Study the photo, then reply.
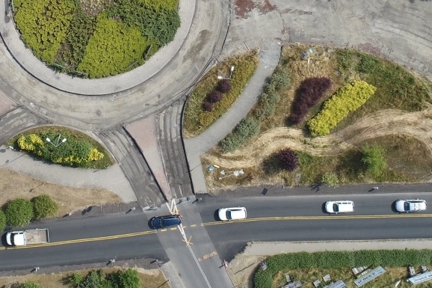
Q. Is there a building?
No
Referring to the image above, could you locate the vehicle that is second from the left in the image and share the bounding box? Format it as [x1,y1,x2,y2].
[149,214,180,227]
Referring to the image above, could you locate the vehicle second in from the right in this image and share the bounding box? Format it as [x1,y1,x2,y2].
[325,200,354,213]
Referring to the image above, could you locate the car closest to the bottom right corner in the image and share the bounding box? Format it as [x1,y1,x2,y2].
[393,199,425,213]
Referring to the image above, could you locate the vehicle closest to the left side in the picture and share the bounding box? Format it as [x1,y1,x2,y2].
[6,231,49,248]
